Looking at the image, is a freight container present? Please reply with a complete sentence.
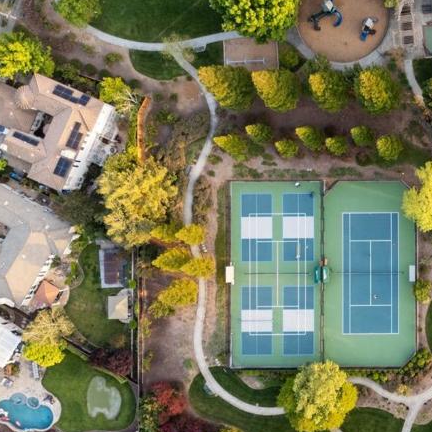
No, I find no freight container anywhere in the image.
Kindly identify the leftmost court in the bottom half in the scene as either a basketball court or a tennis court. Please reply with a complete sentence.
The leftmost court in the bottom half is a tennis court.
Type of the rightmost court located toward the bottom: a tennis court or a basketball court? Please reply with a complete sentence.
The rightmost court located toward the bottom in the image is a tennis court.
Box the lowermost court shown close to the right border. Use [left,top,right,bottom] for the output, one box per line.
[324,182,414,368]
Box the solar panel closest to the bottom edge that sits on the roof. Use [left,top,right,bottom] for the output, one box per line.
[53,156,72,178]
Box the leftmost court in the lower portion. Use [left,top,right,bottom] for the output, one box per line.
[229,180,322,368]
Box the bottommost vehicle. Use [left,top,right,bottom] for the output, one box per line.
[4,168,29,183]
